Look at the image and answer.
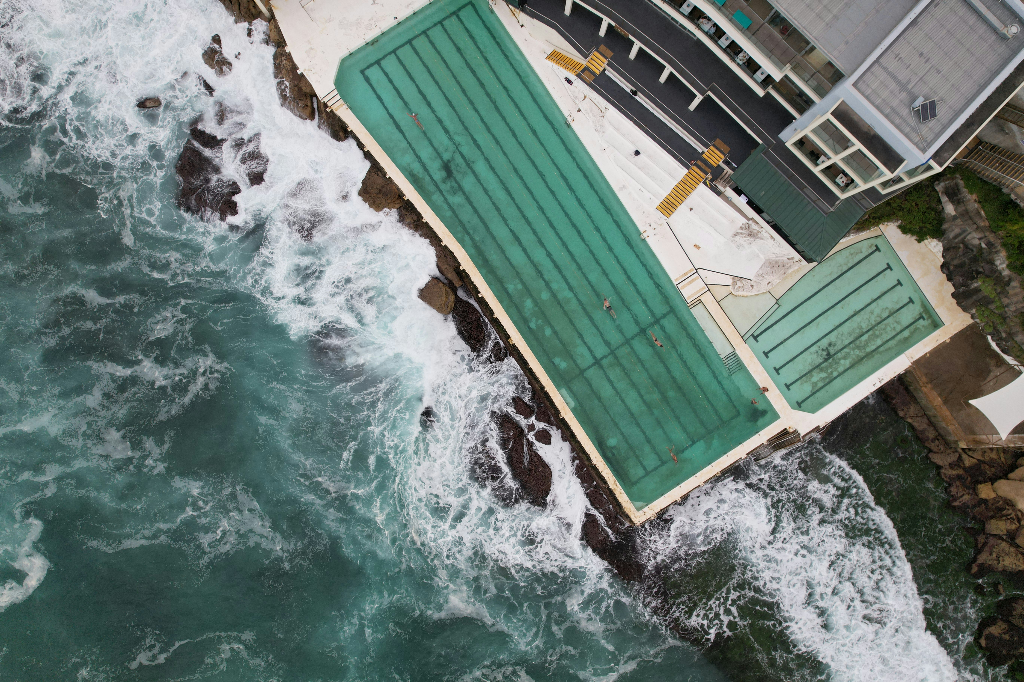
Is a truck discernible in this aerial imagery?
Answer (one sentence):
No, this view has no truck in it.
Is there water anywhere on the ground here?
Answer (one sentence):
Yes, the picture does contain water.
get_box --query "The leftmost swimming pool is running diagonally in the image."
[340,0,772,509]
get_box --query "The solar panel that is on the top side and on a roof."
[912,98,945,122]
